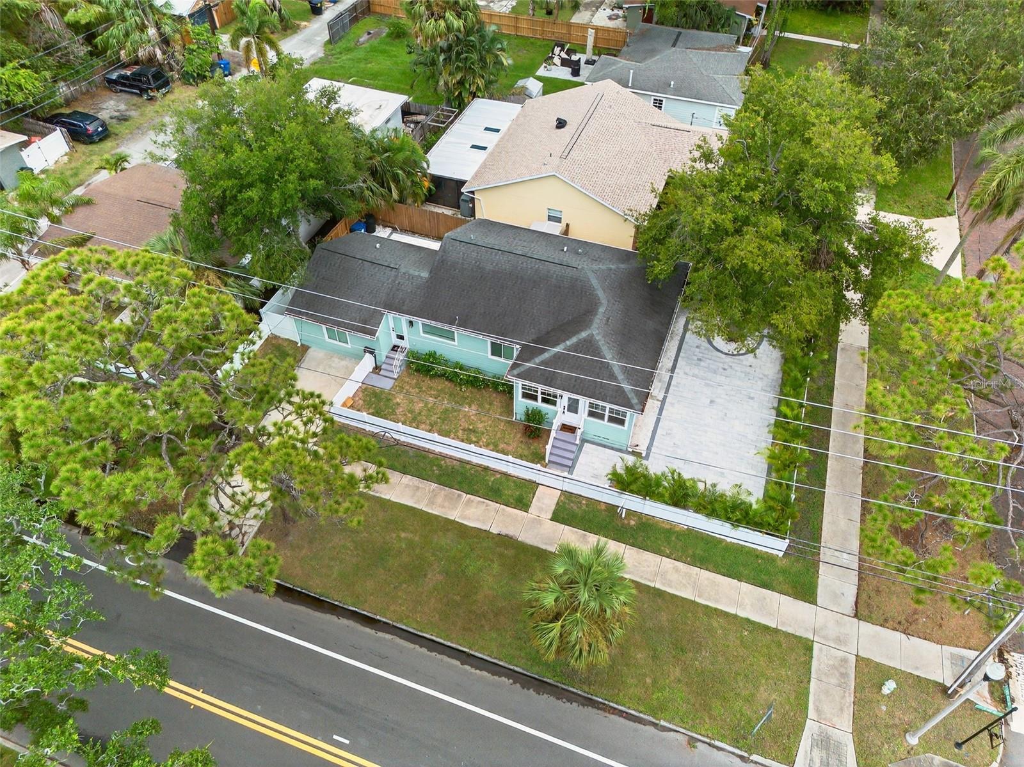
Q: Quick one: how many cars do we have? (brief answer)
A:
2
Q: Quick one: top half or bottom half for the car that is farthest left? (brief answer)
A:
top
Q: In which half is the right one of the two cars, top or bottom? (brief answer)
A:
top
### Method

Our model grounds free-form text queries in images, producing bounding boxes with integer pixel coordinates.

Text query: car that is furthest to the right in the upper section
[103,64,171,100]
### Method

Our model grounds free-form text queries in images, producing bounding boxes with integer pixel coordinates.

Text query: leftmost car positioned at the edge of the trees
[37,105,104,142]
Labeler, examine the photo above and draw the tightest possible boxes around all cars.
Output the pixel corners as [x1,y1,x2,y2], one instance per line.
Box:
[103,64,171,100]
[37,105,104,142]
